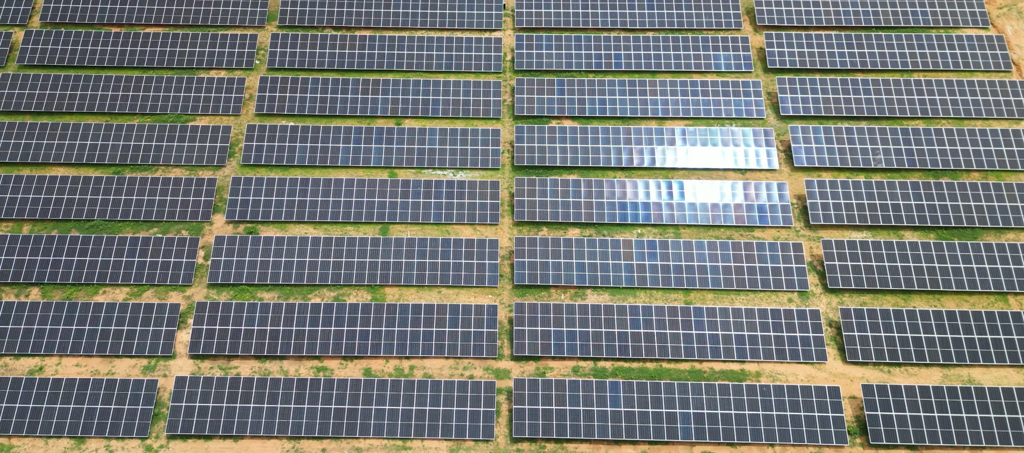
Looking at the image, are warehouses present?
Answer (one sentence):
No, there appears to be no warehouse in this shot.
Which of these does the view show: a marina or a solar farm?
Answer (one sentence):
This image shows a solar farm.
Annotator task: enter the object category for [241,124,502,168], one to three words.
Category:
solar array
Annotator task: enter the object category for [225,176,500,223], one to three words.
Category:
solar array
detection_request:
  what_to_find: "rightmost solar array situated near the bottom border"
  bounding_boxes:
[861,384,1024,445]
